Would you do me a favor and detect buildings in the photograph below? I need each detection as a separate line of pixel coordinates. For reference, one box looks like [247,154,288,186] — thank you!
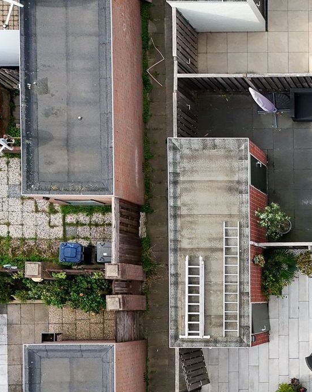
[25,340,145,392]
[20,0,144,205]
[168,138,270,347]
[168,0,272,28]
